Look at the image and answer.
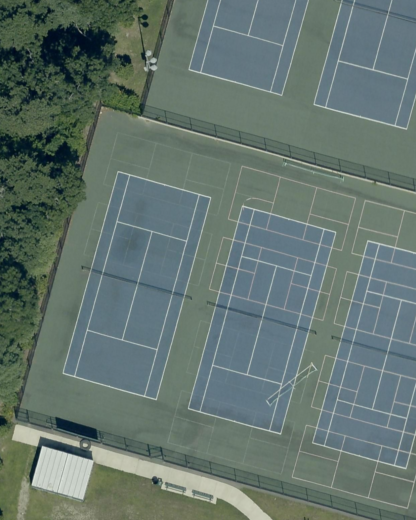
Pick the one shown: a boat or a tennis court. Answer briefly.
tennis court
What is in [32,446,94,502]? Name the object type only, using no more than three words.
shed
